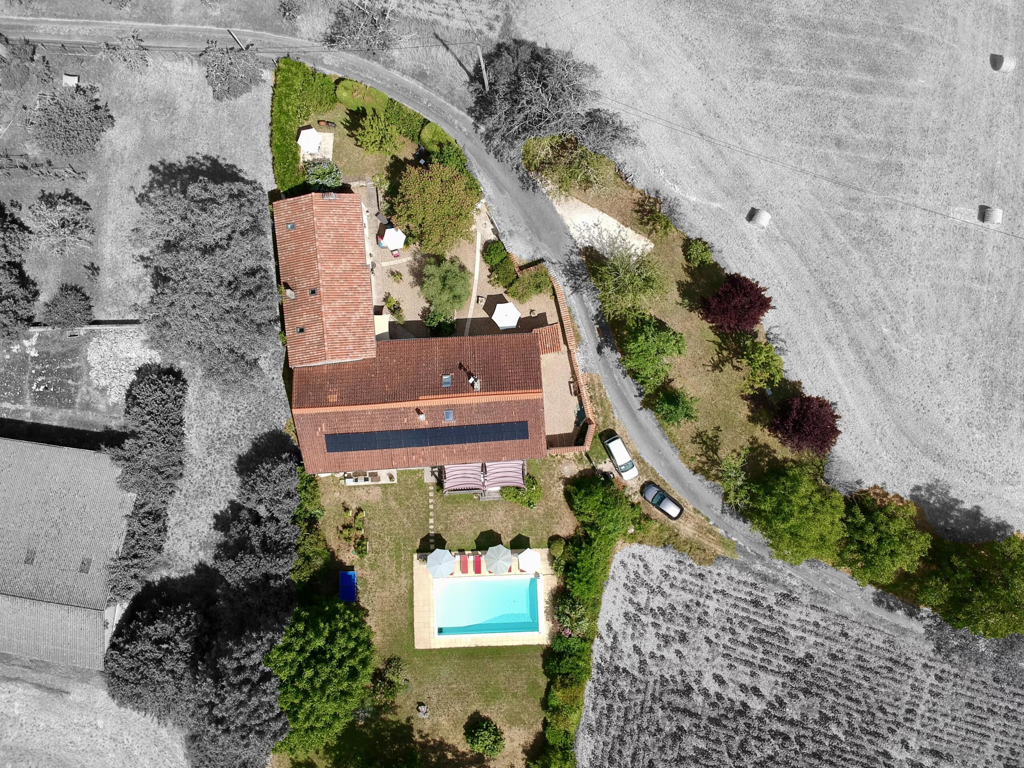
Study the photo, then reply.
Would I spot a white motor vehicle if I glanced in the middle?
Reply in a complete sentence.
Yes, a white motor vehicle appears in the middle.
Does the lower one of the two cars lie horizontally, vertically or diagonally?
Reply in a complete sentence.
Seen from above, the lower one of the two cars lies diagonally.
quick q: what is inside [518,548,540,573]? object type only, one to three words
umbrella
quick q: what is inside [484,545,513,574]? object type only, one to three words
umbrella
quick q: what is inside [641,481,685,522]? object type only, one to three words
car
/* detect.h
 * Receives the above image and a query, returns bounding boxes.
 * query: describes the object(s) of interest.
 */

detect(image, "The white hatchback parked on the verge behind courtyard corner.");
[603,434,639,481]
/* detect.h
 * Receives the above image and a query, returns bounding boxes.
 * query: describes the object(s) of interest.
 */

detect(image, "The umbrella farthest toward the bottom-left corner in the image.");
[427,550,454,578]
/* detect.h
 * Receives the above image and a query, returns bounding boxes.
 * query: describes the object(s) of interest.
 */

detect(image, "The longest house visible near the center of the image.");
[292,331,547,475]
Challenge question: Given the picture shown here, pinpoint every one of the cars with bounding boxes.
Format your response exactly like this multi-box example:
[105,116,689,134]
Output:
[603,434,639,481]
[641,481,685,522]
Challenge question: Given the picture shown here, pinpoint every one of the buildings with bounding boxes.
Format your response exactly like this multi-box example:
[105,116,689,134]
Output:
[0,433,159,671]
[63,72,87,91]
[292,331,547,475]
